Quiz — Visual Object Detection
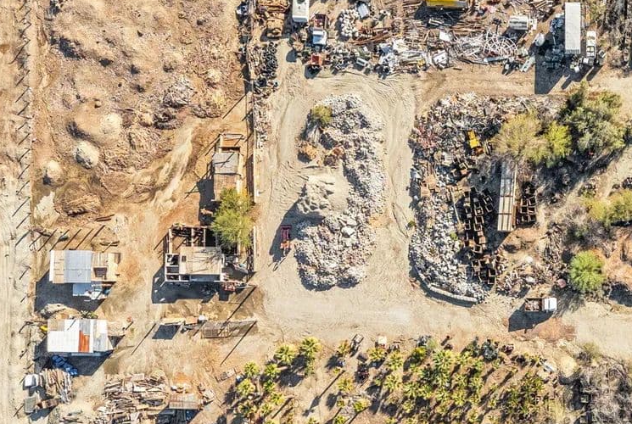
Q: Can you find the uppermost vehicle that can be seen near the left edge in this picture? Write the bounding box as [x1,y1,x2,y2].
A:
[24,365,45,388]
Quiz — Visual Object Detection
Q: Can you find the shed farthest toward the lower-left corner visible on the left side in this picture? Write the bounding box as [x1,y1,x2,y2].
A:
[48,319,122,356]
